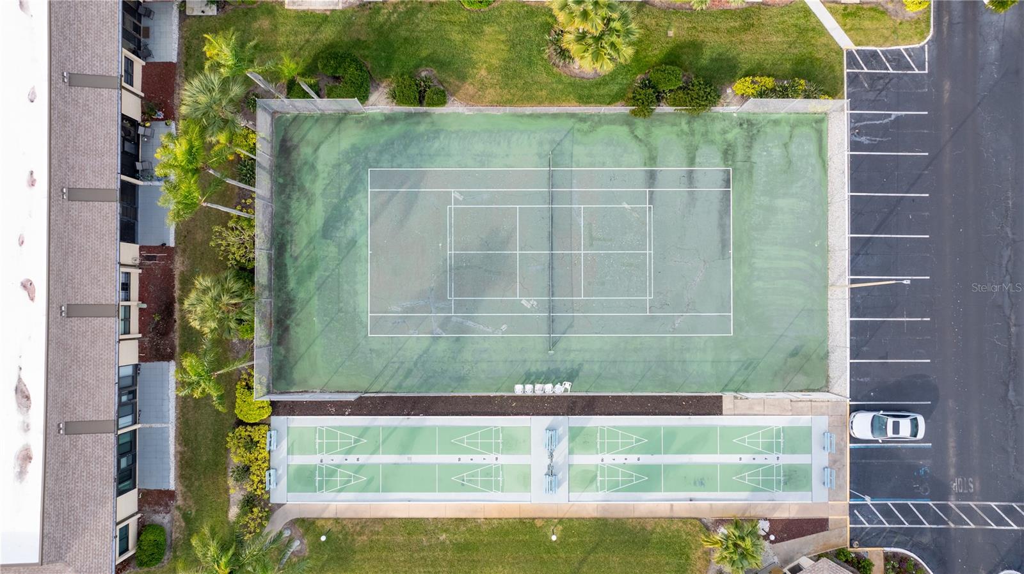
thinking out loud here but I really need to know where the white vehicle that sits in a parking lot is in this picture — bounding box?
[848,409,925,444]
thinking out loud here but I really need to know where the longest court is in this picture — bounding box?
[272,113,828,393]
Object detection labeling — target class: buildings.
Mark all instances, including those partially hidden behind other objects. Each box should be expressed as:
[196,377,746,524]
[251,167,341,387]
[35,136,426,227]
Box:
[0,0,145,574]
[805,559,851,574]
